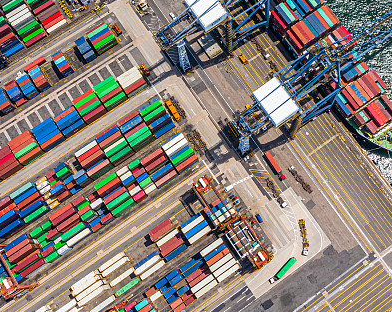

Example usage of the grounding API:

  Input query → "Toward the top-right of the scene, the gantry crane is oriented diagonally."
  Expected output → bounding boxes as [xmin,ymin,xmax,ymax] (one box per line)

[226,11,392,143]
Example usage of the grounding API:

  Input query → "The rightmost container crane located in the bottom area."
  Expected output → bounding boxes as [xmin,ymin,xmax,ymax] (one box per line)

[224,205,274,271]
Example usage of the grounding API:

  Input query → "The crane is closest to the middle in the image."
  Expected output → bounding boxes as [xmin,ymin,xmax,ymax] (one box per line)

[192,167,240,231]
